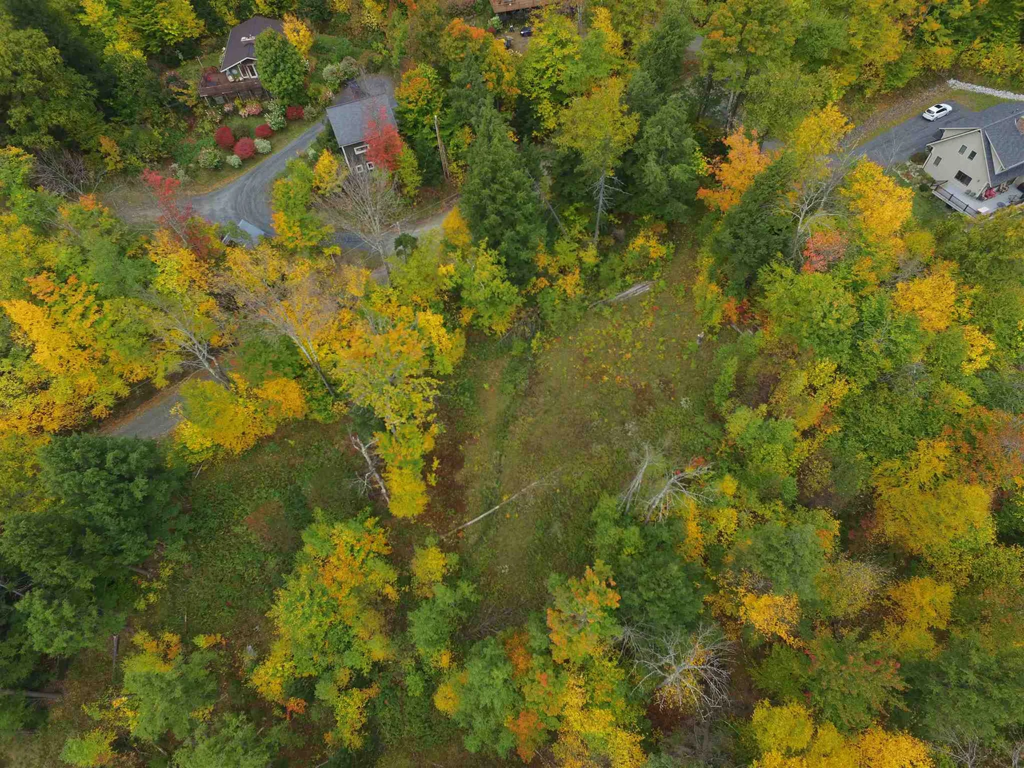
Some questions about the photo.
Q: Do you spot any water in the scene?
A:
No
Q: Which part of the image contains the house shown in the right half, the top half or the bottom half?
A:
top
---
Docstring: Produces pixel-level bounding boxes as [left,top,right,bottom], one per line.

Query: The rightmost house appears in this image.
[919,94,1024,202]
